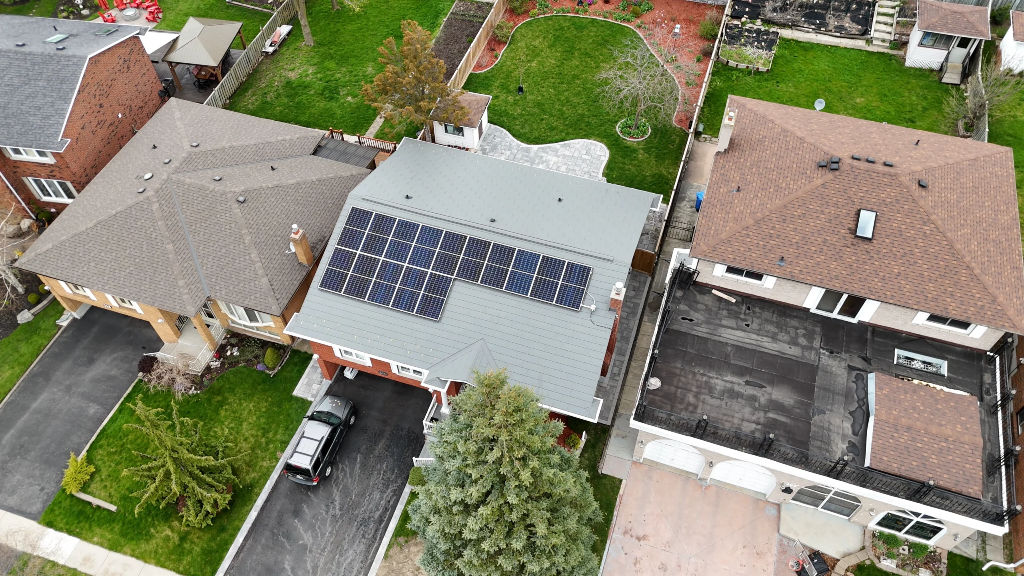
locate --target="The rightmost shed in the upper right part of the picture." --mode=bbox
[995,8,1024,76]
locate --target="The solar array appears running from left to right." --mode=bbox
[317,206,611,330]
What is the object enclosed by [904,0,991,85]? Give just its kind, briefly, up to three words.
shed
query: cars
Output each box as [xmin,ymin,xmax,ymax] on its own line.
[282,386,360,485]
